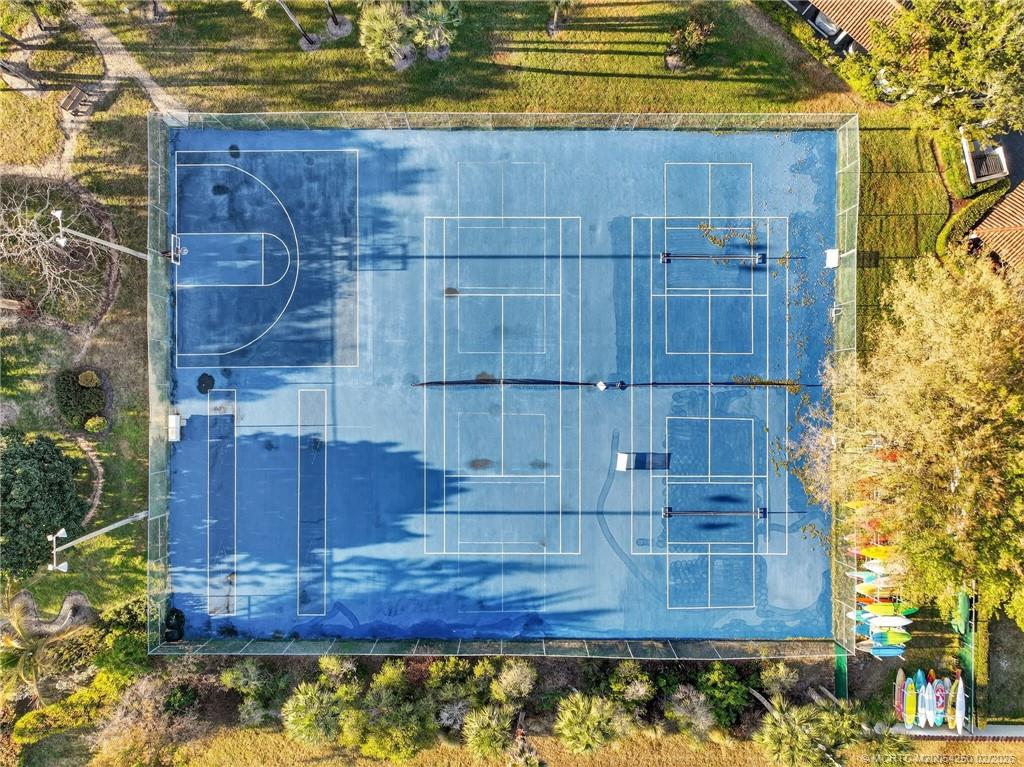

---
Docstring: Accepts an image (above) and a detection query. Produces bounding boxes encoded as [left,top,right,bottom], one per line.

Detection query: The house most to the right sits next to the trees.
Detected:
[970,182,1024,289]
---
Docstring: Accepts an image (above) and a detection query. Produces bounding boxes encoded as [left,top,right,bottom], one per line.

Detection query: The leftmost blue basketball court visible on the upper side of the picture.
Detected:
[176,149,359,368]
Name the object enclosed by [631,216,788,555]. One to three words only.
tennis court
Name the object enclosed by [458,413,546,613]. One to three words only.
sports court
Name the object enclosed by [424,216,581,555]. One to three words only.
tennis court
